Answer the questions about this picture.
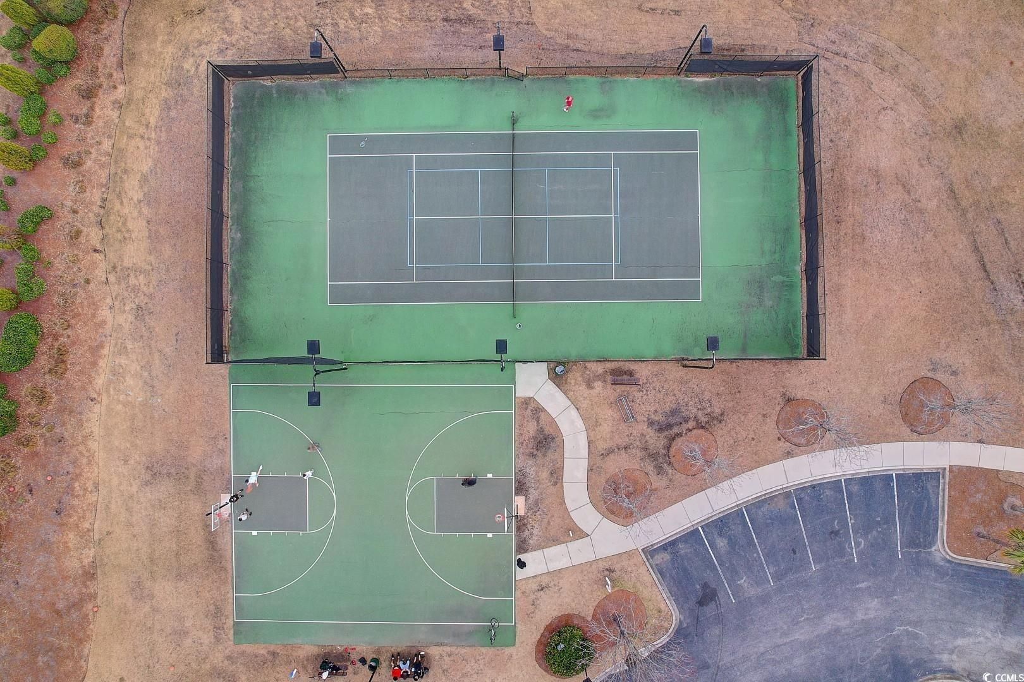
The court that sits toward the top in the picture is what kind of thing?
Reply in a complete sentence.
The court that sits toward the top can be classified as a tennis court.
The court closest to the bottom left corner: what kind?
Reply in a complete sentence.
From above, the court closest to the bottom left corner can be identified as a basketball court.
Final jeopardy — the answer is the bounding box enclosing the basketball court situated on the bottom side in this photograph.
[229,362,516,647]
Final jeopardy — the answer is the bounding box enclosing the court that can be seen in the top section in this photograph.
[229,75,802,361]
